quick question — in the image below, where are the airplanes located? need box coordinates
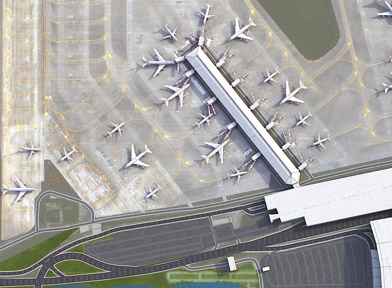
[162,83,190,107]
[125,144,152,168]
[383,82,392,93]
[228,17,255,42]
[141,48,175,76]
[194,113,213,127]
[201,140,229,163]
[377,0,392,17]
[4,175,36,203]
[227,166,247,184]
[20,140,41,157]
[105,121,125,137]
[264,68,280,83]
[197,2,215,24]
[313,133,333,149]
[62,147,79,162]
[296,111,314,126]
[163,23,178,42]
[279,79,307,104]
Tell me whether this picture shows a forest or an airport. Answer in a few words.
airport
